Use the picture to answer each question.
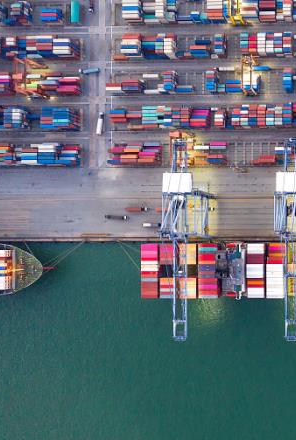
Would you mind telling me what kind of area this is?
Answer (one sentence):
What you see here is a port.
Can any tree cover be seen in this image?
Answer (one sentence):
No, there is no tree cover in the image.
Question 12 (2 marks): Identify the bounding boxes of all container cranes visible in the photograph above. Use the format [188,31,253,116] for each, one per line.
[161,135,218,342]
[240,57,260,100]
[227,0,247,28]
[273,140,296,342]
[13,57,45,98]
